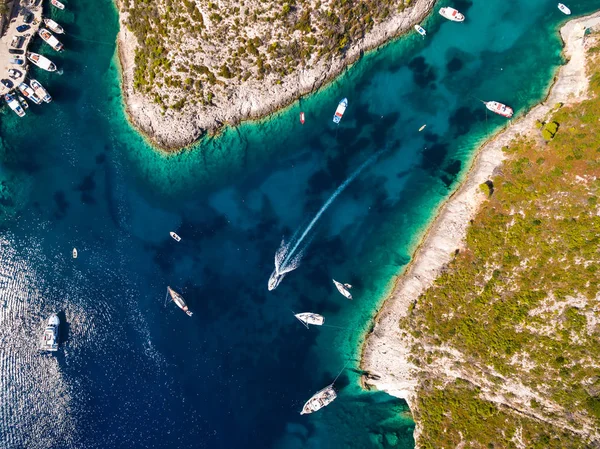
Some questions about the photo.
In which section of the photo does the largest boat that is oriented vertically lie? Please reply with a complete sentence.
The largest boat that is oriented vertically sits in the bottom left section of the image.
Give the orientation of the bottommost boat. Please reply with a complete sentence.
In this picture, the bottommost boat is oriented on a diagonal.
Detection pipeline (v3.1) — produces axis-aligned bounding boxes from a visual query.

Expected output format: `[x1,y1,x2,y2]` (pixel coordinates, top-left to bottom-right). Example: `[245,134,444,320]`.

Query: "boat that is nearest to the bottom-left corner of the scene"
[36,314,57,353]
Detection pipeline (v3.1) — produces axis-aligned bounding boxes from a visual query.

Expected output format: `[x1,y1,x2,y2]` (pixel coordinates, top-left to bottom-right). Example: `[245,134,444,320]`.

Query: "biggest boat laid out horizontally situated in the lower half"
[286,305,362,331]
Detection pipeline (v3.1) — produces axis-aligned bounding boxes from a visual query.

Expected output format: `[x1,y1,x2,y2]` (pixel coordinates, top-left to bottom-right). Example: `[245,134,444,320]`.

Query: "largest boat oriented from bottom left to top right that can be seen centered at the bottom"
[299,357,353,417]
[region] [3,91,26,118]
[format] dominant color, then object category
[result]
white boat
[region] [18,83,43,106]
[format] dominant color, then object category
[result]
white boat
